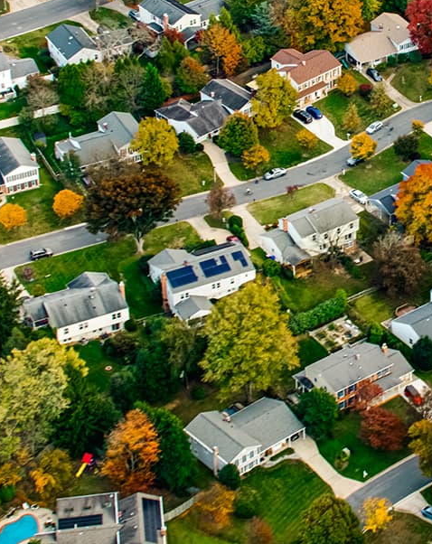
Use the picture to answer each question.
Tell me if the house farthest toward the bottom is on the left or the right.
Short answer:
left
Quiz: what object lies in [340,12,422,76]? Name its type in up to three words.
house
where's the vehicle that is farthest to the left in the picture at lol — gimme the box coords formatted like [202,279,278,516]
[26,247,56,263]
